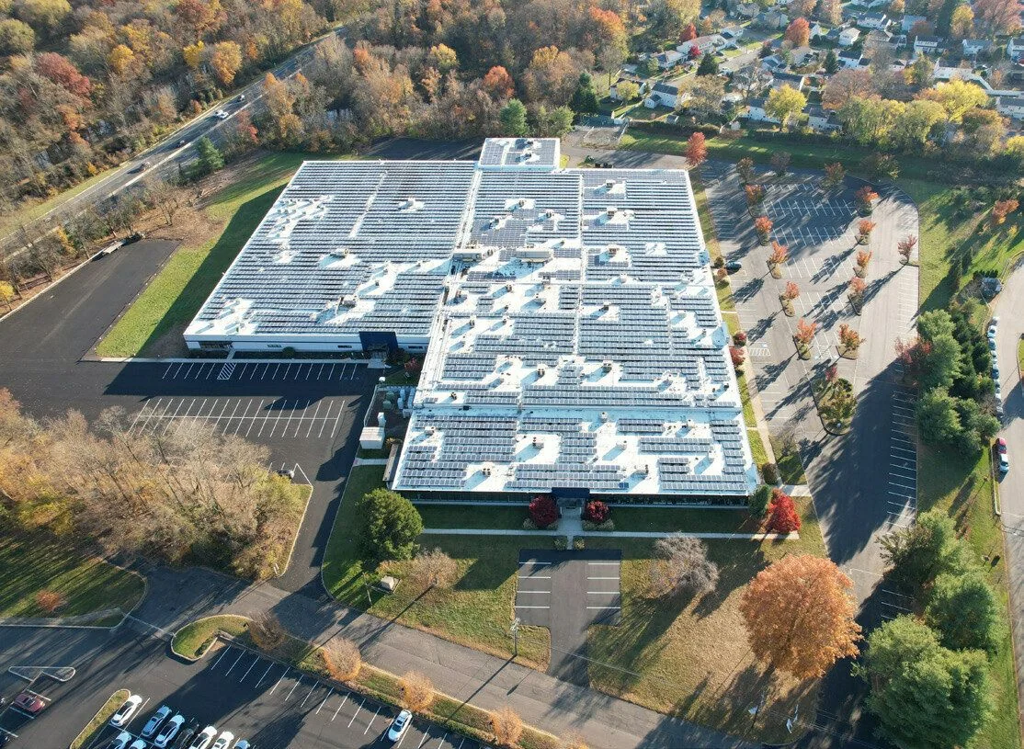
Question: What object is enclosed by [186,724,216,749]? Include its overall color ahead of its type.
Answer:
white car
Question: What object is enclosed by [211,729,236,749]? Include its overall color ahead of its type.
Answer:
white car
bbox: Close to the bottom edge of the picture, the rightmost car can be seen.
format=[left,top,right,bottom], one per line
[385,709,412,741]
